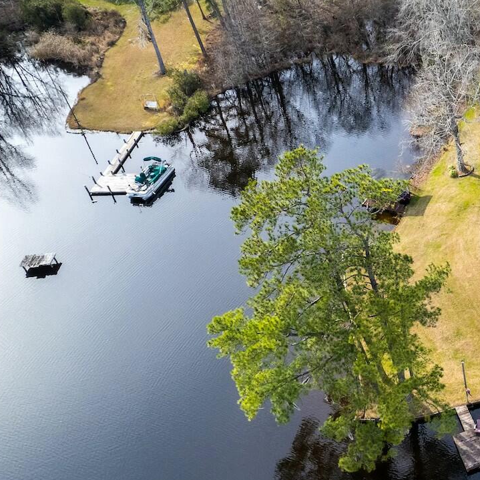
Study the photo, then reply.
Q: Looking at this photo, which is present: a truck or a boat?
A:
boat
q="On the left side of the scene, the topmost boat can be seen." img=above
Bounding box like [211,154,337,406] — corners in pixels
[122,153,184,203]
